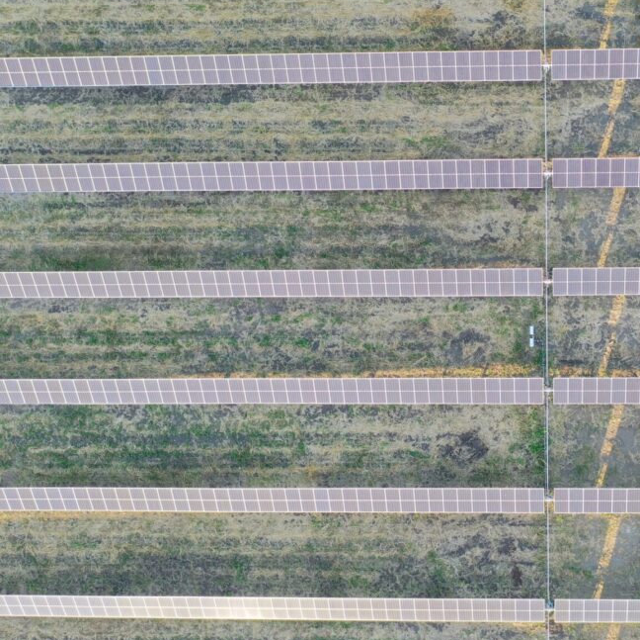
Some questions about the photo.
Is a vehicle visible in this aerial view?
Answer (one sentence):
No, I can see no vehicle in this picture.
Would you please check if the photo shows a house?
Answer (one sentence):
No, no house is visible in the scene.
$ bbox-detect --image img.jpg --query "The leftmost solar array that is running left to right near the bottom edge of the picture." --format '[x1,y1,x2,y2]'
[0,596,548,620]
